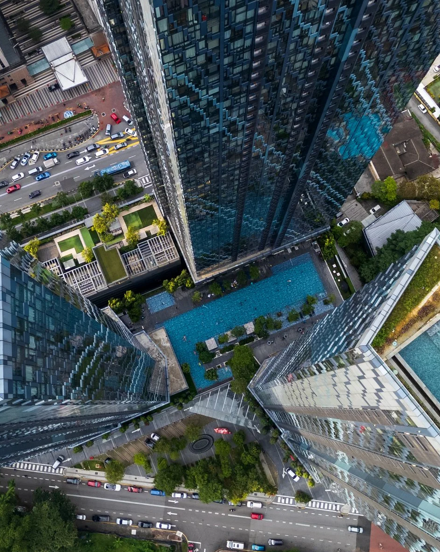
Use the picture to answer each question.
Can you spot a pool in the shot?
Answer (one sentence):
Yes, this view includes a pool.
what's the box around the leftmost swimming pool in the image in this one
[147,293,175,313]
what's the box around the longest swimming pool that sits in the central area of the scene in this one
[164,253,327,388]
